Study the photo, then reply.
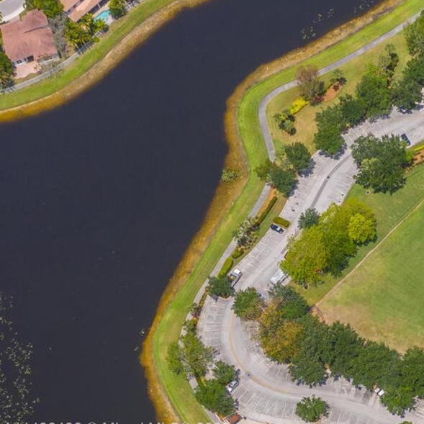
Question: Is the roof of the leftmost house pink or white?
pink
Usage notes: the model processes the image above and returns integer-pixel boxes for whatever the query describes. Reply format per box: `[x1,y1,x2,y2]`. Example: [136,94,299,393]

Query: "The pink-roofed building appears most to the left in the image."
[1,10,61,66]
